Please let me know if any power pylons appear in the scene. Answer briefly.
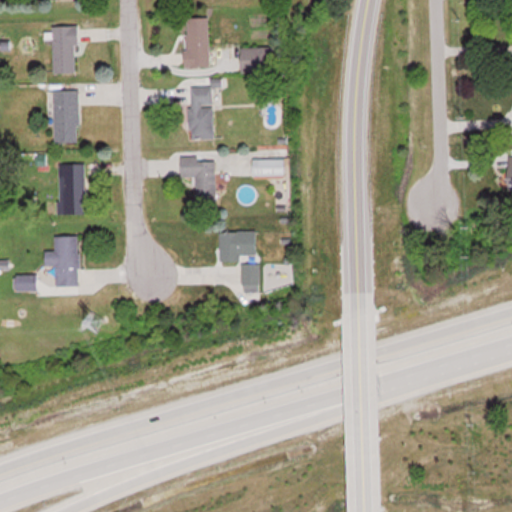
Yes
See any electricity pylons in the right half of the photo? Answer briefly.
No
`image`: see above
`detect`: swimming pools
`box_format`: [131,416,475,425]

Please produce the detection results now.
[234,184,258,206]
[262,104,282,130]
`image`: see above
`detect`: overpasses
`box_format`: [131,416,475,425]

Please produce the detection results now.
[341,302,380,466]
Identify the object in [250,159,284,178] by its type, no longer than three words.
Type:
shed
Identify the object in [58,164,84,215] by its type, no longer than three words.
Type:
house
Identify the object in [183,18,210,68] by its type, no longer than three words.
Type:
house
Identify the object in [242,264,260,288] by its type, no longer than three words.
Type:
building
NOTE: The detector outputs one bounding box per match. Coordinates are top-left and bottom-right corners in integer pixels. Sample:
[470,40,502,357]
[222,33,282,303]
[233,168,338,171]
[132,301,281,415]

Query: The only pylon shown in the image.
[80,308,106,334]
